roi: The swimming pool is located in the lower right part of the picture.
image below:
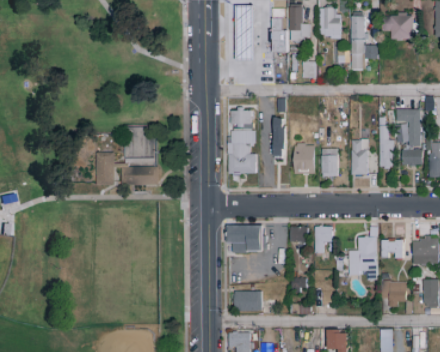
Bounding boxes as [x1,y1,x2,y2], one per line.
[352,278,366,298]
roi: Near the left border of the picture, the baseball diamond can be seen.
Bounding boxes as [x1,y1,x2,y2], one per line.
[0,316,160,352]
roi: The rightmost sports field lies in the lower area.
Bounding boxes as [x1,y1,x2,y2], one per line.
[92,202,159,324]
